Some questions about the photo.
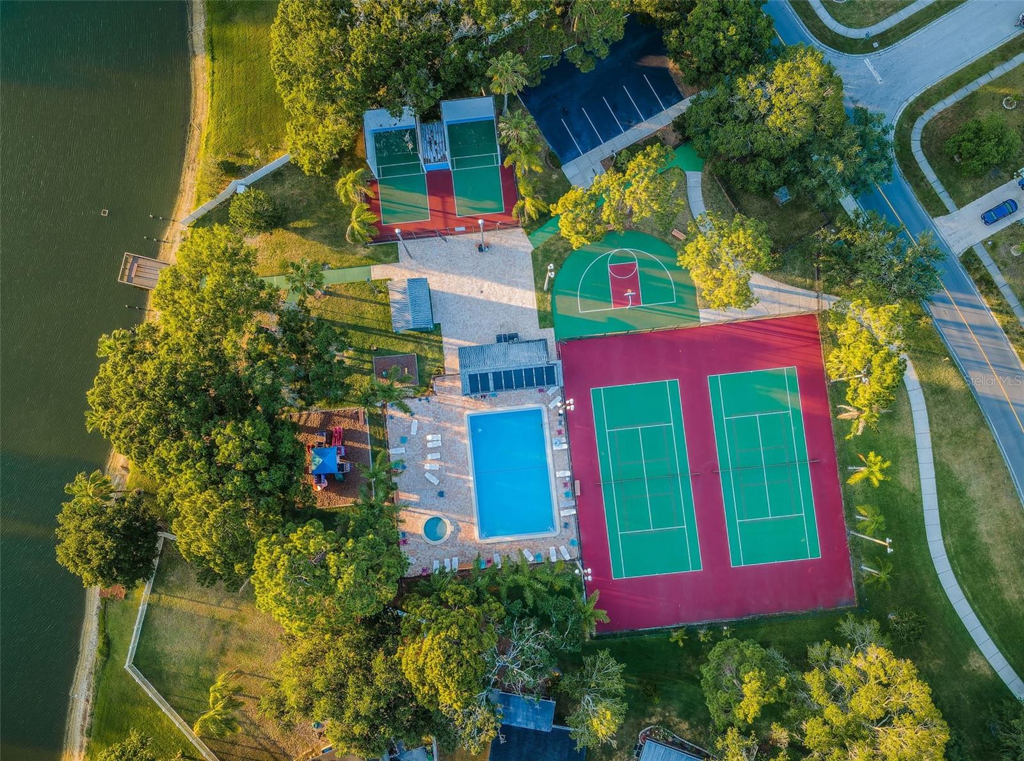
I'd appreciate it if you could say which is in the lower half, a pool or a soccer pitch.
pool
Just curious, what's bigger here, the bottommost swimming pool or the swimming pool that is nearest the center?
the swimming pool that is nearest the center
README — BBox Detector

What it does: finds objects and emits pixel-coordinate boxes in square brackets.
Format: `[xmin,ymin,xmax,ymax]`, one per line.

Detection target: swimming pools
[467,405,559,541]
[421,514,455,545]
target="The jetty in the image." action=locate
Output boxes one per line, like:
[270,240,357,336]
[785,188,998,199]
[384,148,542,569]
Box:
[117,254,171,294]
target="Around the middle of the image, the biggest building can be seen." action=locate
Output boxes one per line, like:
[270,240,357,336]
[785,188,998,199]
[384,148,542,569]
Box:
[458,339,564,396]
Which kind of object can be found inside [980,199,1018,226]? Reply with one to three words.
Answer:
car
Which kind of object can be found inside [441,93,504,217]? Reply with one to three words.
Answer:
sports court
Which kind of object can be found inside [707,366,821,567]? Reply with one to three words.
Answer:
tennis court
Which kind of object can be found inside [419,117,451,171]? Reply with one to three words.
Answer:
shed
